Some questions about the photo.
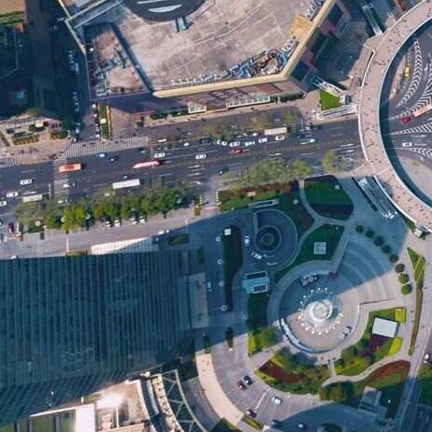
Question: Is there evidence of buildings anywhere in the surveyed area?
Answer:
Yes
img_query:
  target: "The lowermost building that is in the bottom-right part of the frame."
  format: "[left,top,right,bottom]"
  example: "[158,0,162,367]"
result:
[360,385,388,421]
